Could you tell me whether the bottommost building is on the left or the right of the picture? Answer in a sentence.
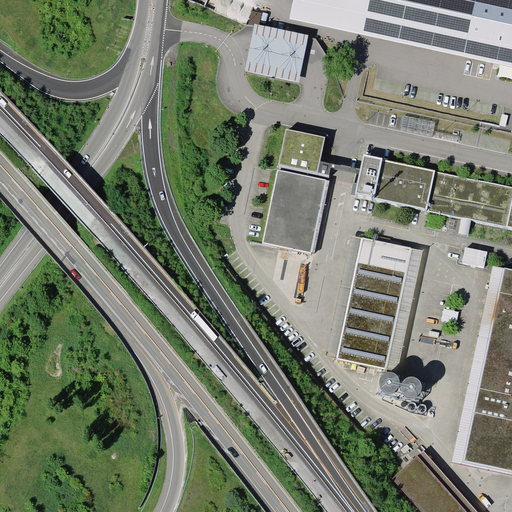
The bottommost building appears in the right half of the scene.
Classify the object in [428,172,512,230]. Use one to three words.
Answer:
building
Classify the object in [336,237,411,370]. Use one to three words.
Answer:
building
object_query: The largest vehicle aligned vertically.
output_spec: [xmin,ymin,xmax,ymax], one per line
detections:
[294,266,308,304]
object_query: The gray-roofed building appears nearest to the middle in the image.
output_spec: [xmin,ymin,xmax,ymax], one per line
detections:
[264,170,328,254]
